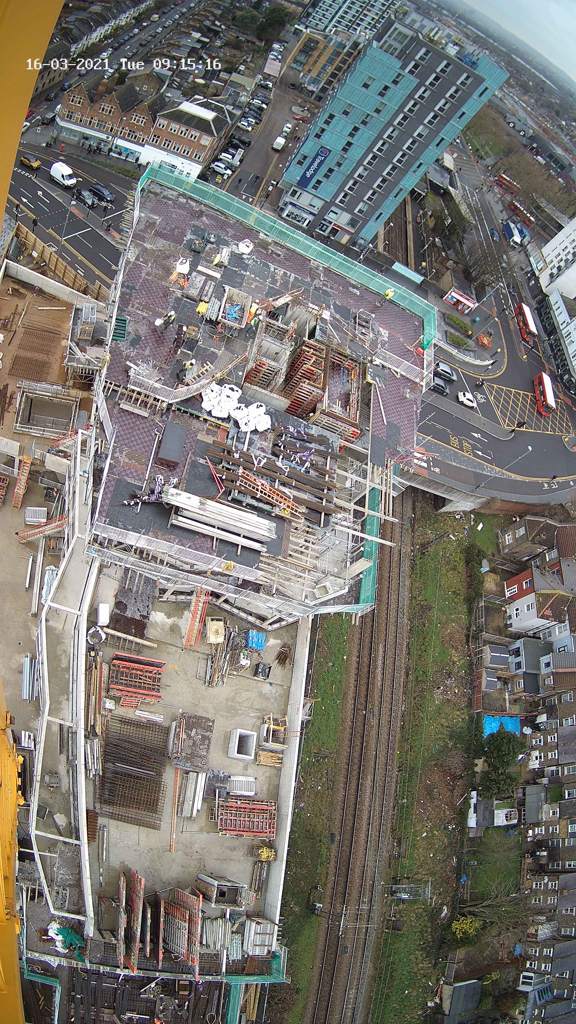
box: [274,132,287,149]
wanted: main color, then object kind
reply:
white vehicle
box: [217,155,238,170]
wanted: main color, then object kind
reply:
gray car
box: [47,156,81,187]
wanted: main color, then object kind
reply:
white van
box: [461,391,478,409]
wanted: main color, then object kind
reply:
white car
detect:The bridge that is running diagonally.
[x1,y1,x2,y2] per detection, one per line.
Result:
[381,466,458,518]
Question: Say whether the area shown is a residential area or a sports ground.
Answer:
residential area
